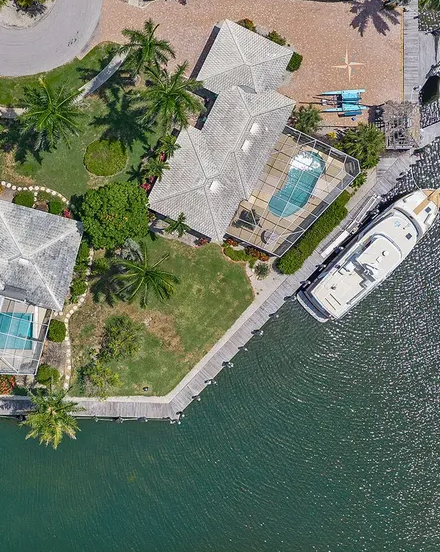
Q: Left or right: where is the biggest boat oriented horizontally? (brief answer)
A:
right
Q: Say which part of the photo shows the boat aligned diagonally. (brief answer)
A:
right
